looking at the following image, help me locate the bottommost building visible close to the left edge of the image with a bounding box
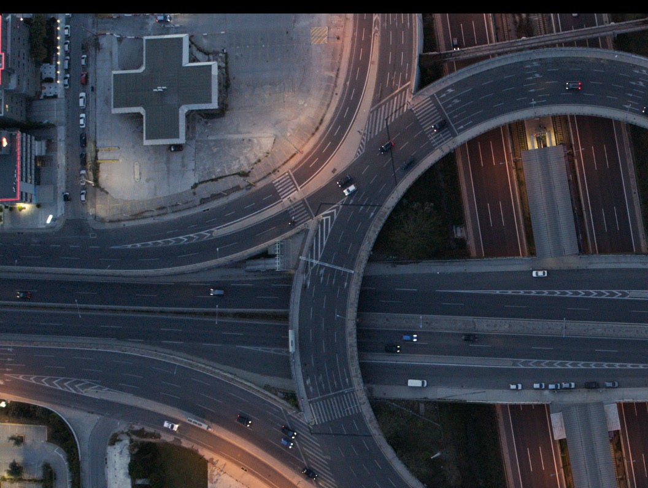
[0,130,51,207]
